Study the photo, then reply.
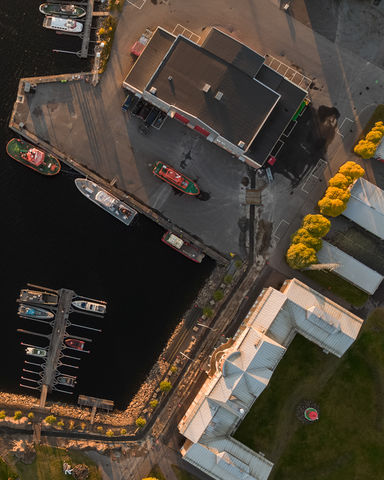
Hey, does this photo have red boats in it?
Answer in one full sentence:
Yes, I can see a red boat in this picture.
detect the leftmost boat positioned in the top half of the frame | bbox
[6,140,61,176]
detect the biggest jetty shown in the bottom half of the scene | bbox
[17,284,107,394]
